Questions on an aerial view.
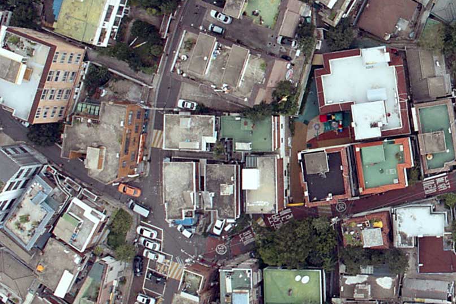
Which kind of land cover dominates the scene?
buildings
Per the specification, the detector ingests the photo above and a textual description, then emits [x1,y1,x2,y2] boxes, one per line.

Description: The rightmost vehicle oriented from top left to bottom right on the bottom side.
[175,226,195,240]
